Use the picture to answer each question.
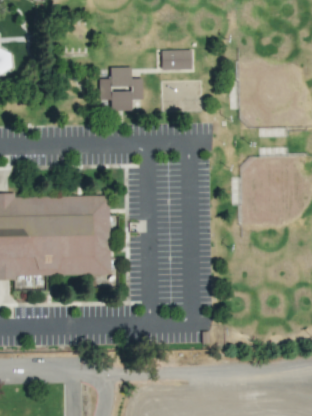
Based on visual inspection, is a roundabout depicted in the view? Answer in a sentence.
No, there's no roundabout here.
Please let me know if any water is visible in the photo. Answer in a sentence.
No, water can't be seen anywhere here.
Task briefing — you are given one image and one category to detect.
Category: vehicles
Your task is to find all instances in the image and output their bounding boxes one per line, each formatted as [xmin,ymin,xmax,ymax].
[14,368,24,374]
[32,358,44,362]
